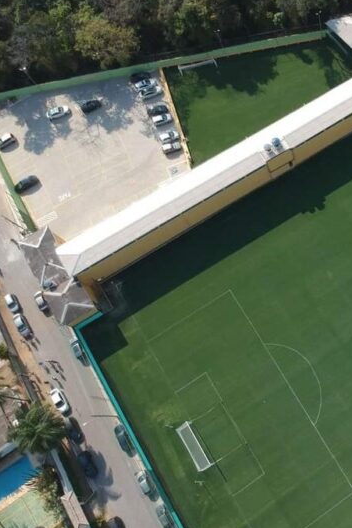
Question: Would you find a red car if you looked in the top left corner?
No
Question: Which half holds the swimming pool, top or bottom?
bottom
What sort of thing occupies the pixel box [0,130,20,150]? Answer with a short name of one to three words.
car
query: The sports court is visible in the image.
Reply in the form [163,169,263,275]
[0,484,64,528]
